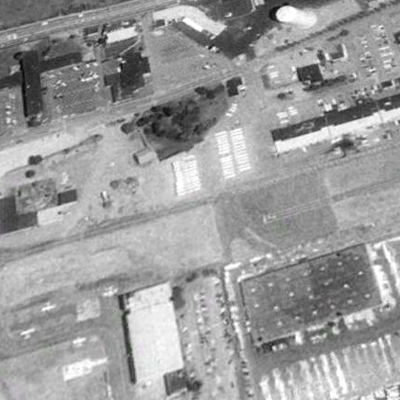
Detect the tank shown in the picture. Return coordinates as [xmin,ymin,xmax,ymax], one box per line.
[282,7,312,33]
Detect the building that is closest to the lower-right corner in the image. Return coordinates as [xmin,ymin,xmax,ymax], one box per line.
[240,244,382,346]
